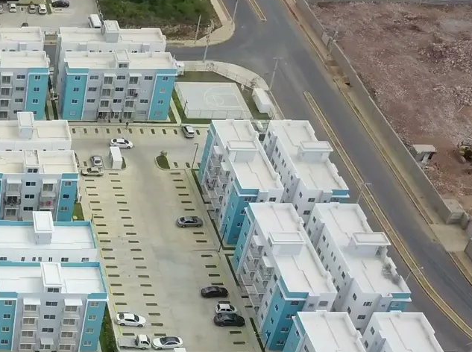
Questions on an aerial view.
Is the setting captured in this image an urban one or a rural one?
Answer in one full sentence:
The area is urban.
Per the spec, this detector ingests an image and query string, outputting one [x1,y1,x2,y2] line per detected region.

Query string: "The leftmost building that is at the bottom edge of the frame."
[0,262,110,352]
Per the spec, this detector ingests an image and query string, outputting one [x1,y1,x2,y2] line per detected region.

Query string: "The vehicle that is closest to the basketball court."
[179,124,197,139]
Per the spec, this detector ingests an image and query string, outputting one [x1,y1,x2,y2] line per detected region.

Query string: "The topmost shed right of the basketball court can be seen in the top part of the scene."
[251,90,274,111]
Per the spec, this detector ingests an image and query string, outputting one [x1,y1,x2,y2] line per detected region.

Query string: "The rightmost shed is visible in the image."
[439,196,472,223]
